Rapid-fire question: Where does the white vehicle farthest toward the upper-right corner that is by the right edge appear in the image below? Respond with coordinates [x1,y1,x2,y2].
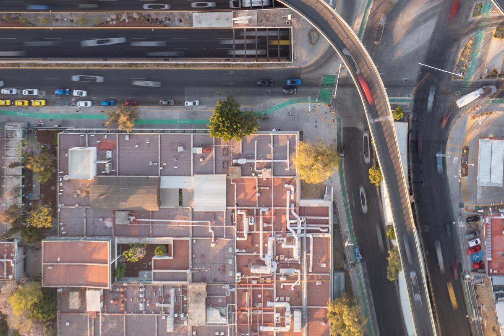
[453,86,487,111]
